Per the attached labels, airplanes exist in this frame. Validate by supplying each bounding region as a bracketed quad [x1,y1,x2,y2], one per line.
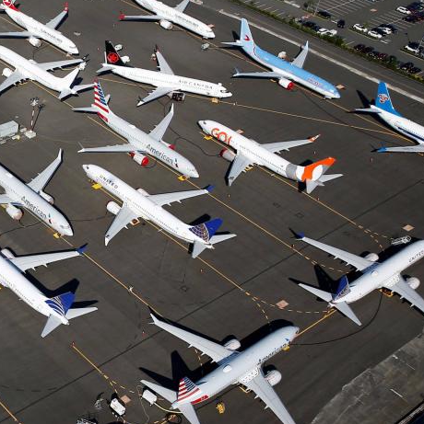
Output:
[0,47,95,99]
[199,122,343,194]
[96,43,231,110]
[354,84,424,158]
[298,229,424,327]
[83,167,236,259]
[0,147,71,235]
[0,244,97,337]
[0,0,80,58]
[140,312,300,424]
[121,0,215,43]
[221,19,341,99]
[72,82,199,177]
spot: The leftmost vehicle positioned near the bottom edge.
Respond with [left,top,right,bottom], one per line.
[108,395,131,416]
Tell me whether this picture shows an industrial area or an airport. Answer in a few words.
airport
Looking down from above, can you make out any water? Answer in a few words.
No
